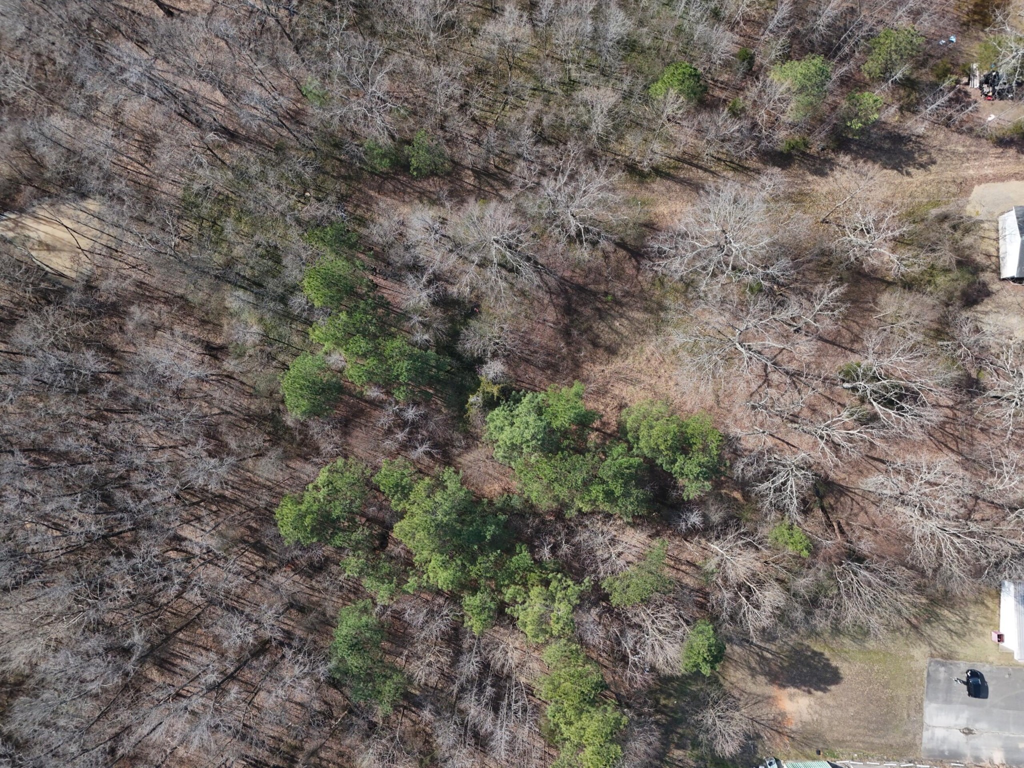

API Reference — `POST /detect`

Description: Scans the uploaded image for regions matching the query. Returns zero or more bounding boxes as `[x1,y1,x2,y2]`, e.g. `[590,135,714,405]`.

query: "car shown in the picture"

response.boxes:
[966,669,983,700]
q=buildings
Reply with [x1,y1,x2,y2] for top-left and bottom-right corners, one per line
[999,208,1024,278]
[782,761,830,768]
[1000,580,1024,668]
